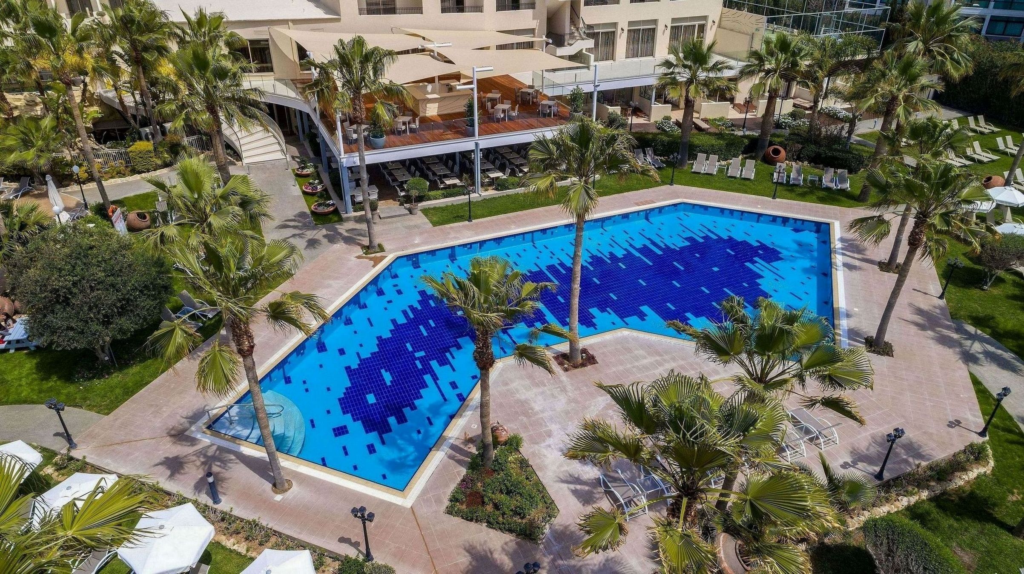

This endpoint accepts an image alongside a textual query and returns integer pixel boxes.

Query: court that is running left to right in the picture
[719,0,890,57]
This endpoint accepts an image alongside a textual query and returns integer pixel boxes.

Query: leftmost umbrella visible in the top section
[46,175,67,216]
